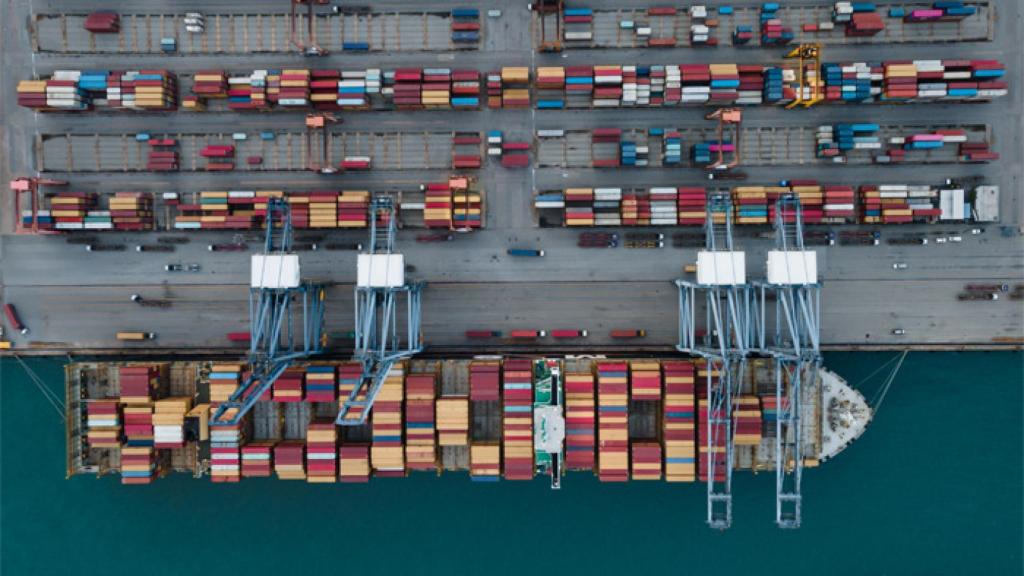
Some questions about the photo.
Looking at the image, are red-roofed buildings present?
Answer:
No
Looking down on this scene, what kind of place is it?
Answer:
port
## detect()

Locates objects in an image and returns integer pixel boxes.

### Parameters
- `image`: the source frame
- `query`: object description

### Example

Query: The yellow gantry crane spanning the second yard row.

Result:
[777,44,822,109]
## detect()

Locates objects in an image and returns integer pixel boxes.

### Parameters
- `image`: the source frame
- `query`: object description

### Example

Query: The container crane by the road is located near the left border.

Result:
[11,182,71,233]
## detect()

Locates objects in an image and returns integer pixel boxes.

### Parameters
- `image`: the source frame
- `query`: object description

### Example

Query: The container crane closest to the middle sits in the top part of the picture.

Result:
[448,180,478,233]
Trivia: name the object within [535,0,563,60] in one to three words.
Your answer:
container crane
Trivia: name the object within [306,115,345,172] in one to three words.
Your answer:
container crane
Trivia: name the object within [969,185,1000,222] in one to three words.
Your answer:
building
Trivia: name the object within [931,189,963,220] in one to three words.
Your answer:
shed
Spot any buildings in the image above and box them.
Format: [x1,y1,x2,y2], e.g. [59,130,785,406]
[969,185,1000,222]
[931,189,963,220]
